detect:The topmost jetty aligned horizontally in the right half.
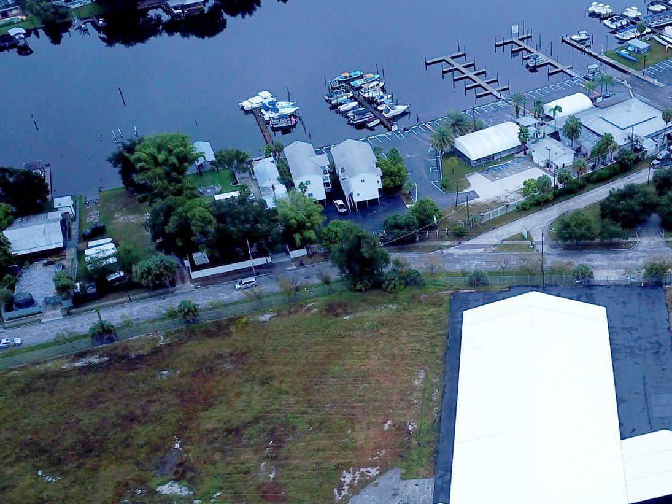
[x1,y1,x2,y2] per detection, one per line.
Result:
[585,0,672,45]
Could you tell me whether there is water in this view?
Yes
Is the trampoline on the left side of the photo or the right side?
left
